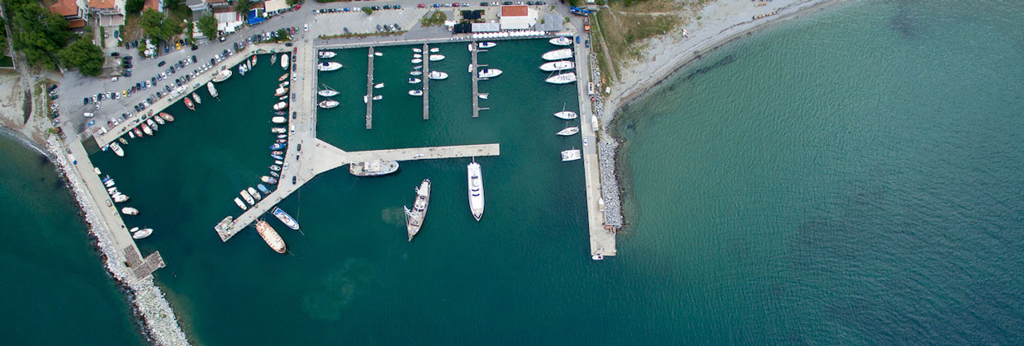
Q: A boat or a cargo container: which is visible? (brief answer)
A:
boat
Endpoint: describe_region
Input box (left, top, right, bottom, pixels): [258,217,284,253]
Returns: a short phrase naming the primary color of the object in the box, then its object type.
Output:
white boat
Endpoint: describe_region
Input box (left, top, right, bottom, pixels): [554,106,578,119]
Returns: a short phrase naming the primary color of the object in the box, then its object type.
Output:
white boat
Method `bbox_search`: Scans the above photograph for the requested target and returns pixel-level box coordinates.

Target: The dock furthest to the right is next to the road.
[572,31,616,256]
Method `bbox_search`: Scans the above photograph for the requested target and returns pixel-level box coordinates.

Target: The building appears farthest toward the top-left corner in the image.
[51,0,93,30]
